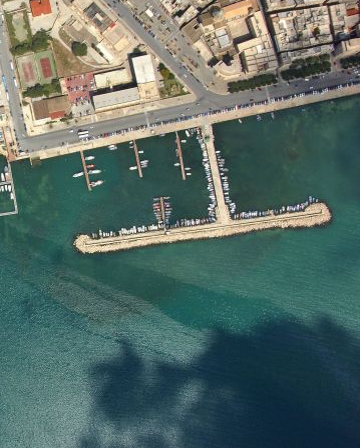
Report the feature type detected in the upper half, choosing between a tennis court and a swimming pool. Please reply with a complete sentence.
It is a tennis court that can be seen in the upper half.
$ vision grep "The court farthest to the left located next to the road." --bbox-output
[17,53,41,89]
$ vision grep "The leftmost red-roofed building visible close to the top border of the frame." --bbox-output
[30,0,53,19]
